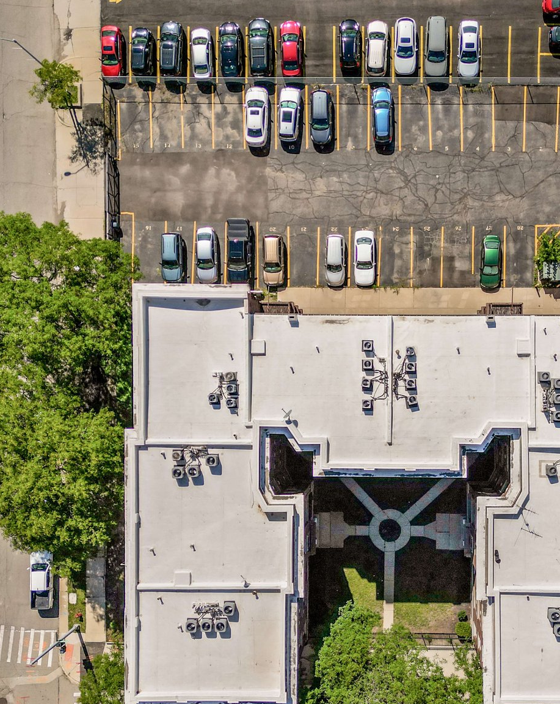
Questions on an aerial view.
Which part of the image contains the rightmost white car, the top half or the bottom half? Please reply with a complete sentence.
You can find the rightmost white car in the top half.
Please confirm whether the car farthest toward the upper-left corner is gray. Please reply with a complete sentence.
No, from above the car farthest toward the upper-left corner looks red.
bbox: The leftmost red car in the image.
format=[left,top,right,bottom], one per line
[97,25,125,78]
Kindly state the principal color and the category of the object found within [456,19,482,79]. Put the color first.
white car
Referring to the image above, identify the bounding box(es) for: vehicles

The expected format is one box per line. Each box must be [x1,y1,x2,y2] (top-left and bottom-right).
[337,19,363,73]
[243,86,269,147]
[542,0,560,21]
[215,21,243,79]
[478,235,504,289]
[97,25,125,78]
[189,29,214,79]
[278,21,303,78]
[223,217,252,283]
[370,86,396,144]
[25,549,55,610]
[363,19,391,79]
[323,234,347,287]
[260,234,285,285]
[192,227,219,283]
[245,17,274,78]
[392,15,420,77]
[352,229,378,285]
[456,19,482,79]
[308,87,333,146]
[423,13,451,78]
[549,26,560,52]
[276,86,302,142]
[158,232,186,282]
[129,28,155,77]
[157,21,186,78]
